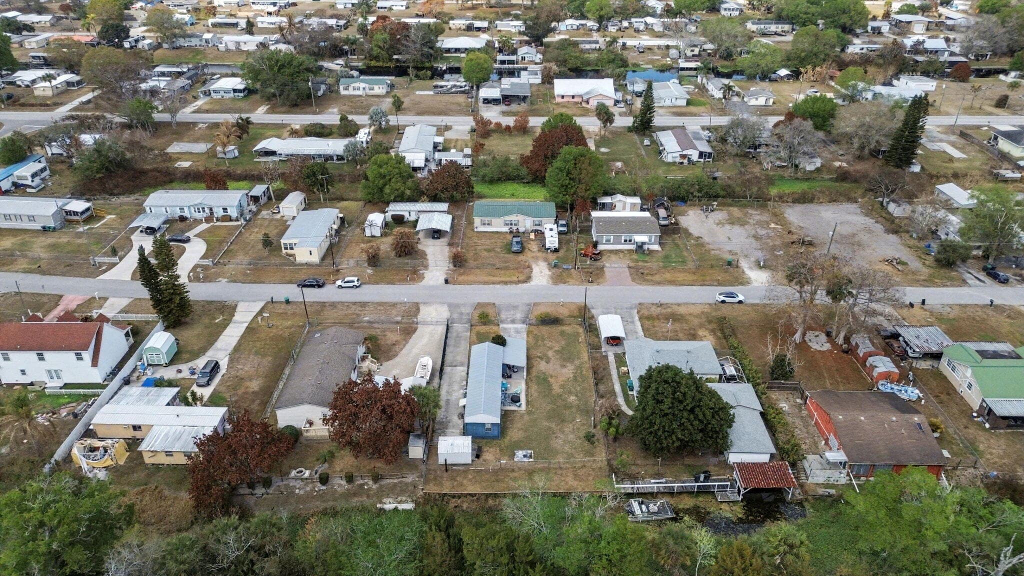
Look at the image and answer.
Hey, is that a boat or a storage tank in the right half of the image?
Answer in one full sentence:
Looking in the right half of the image, you will find a boat.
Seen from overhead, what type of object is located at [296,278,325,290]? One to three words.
vehicle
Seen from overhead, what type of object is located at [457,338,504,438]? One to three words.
house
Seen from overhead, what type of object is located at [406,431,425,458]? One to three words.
shed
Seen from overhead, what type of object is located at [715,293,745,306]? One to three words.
vehicle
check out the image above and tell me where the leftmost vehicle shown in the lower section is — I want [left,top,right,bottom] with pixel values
[192,364,223,391]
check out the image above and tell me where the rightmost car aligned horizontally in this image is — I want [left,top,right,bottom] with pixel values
[982,271,1014,286]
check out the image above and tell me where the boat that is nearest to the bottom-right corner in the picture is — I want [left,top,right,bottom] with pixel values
[862,382,937,403]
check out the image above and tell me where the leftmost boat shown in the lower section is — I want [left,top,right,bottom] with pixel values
[412,355,432,377]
